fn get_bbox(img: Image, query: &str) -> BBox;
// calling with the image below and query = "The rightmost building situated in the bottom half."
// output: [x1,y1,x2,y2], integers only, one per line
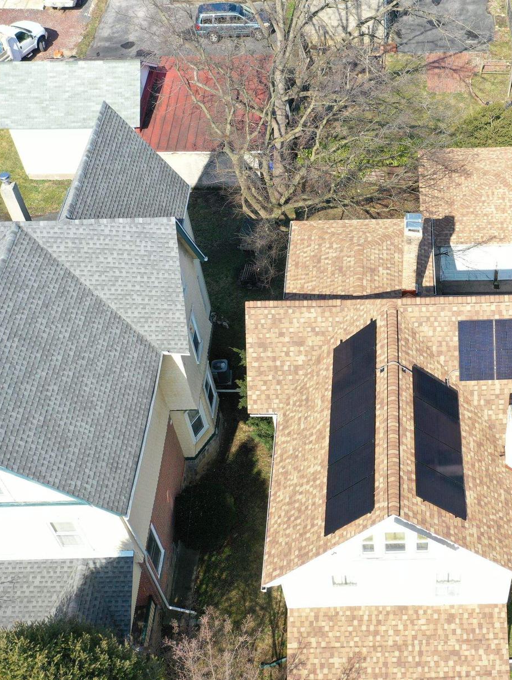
[245,208,512,680]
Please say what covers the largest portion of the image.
buildings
